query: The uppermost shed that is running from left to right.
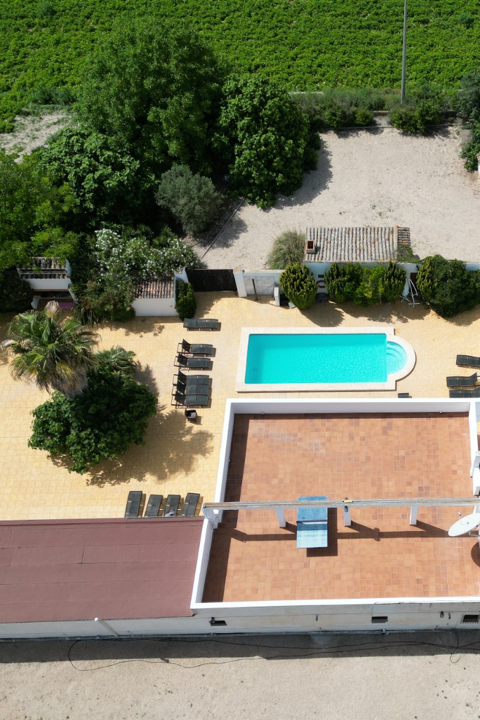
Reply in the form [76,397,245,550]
[302,225,410,264]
